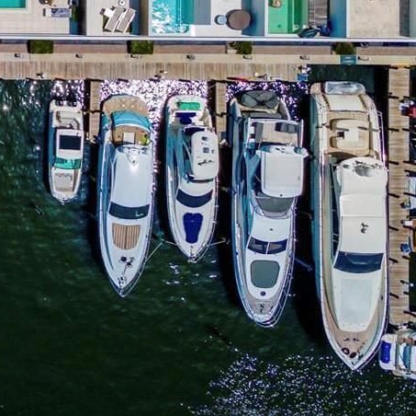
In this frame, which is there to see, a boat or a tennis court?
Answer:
boat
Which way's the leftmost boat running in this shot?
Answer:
from top to bottom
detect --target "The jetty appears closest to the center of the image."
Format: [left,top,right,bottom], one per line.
[209,82,228,139]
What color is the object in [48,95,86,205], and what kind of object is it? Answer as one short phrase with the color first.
white boat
